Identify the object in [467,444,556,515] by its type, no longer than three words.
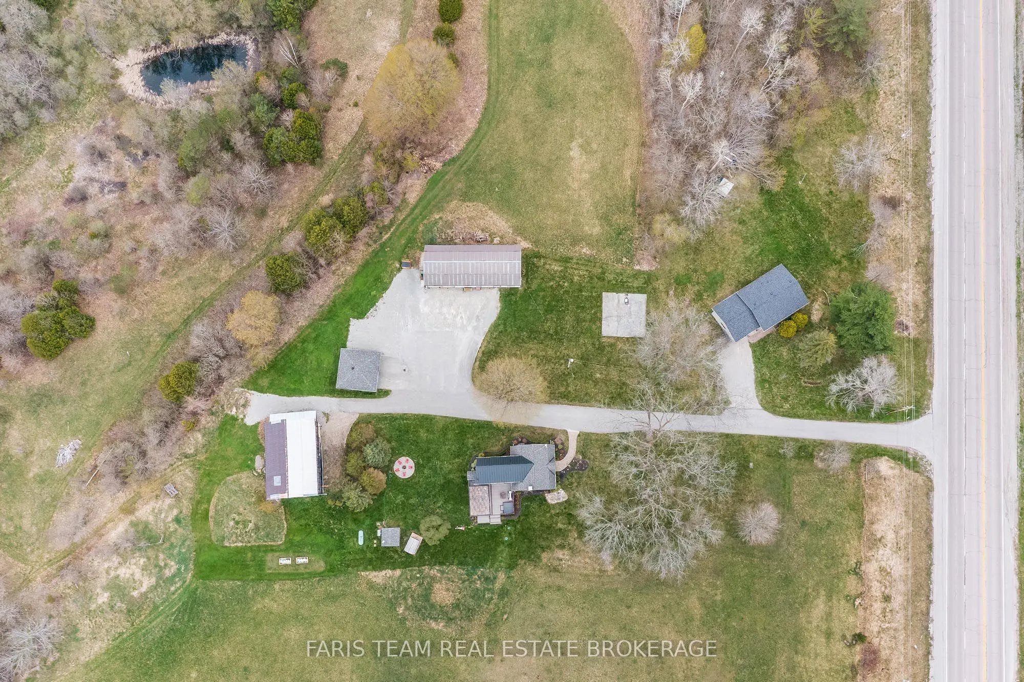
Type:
house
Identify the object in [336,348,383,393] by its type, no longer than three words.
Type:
building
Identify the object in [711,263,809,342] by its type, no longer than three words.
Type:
house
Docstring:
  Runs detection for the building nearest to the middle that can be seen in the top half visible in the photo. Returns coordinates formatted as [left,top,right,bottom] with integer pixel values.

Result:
[418,245,521,289]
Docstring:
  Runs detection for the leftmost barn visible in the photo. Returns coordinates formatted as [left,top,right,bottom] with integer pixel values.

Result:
[265,410,327,500]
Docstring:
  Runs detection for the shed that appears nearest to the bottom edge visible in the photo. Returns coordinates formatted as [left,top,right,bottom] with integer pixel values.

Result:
[381,527,401,547]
